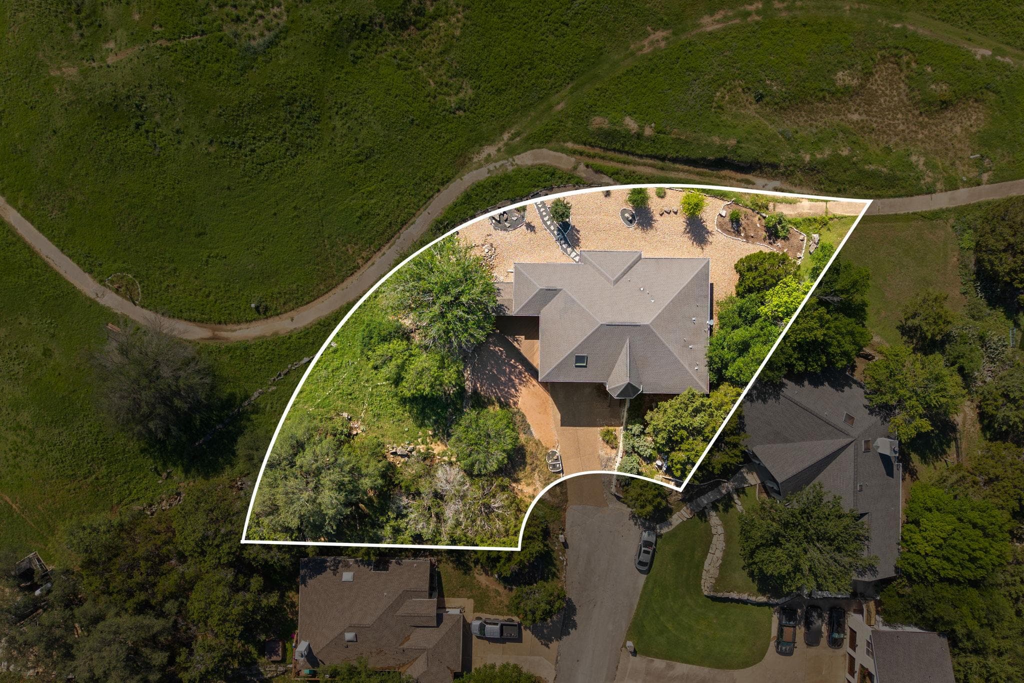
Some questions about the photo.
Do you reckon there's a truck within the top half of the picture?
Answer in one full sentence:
No, there's no truck to be seen within the top half of the picture.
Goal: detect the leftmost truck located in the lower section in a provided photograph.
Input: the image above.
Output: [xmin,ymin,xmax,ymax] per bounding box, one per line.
[470,619,519,643]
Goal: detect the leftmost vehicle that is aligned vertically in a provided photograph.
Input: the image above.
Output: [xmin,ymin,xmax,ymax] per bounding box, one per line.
[636,532,658,574]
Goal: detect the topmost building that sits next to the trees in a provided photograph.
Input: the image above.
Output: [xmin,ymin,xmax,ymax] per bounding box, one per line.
[513,250,715,399]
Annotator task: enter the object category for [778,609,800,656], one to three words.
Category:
car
